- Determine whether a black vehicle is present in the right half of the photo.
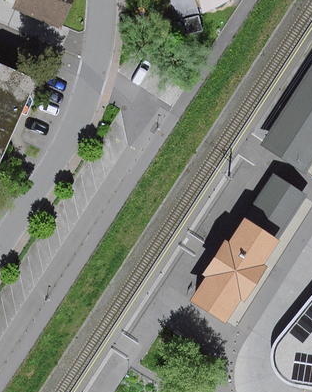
No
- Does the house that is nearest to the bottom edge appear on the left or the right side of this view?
right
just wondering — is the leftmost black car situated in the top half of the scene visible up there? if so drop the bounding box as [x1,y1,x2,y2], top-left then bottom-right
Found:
[25,118,50,134]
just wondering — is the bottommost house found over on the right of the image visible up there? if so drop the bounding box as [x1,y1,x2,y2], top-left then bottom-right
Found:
[192,218,280,323]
